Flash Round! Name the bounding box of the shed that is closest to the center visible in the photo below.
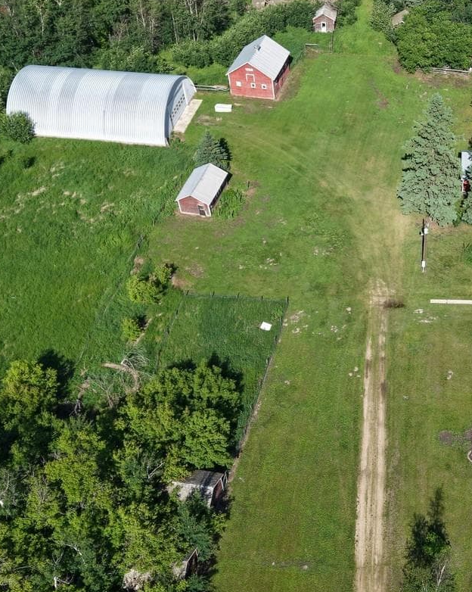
[175,163,228,216]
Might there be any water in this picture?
No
